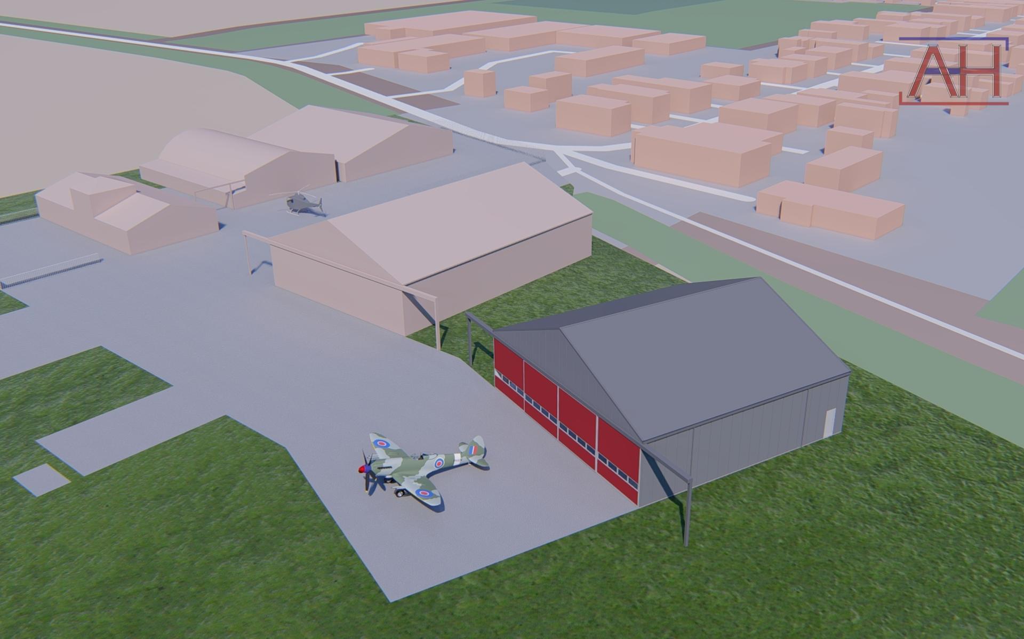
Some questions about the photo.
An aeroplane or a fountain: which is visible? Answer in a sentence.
It is an aeroplane that can be seen here.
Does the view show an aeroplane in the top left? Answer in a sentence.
No, in the top left there is no aeroplane.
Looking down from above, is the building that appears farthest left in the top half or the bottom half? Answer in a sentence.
You can find the building that appears farthest left in the top half.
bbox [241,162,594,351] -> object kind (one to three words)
hangar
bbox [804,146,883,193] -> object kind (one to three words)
house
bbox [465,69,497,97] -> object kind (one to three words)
building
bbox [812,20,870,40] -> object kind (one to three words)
house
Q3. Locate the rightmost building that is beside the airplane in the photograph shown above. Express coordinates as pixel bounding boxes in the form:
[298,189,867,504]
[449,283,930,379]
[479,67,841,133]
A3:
[463,276,853,549]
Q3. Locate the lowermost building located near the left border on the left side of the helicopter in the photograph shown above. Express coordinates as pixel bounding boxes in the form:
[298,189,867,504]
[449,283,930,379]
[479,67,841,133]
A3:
[36,172,219,254]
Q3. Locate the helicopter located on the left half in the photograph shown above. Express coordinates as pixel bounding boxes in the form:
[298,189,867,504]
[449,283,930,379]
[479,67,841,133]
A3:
[269,184,324,215]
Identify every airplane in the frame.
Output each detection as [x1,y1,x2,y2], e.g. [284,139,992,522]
[358,431,487,505]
